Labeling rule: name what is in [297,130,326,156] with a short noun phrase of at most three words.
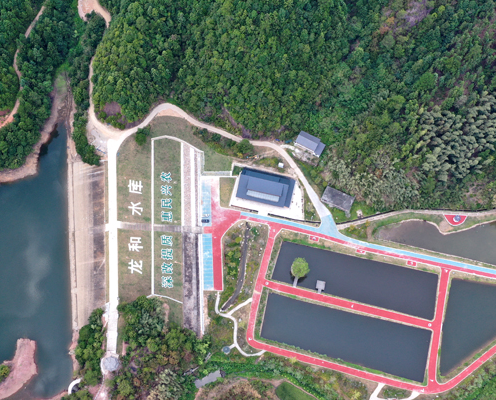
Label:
house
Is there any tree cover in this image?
Yes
